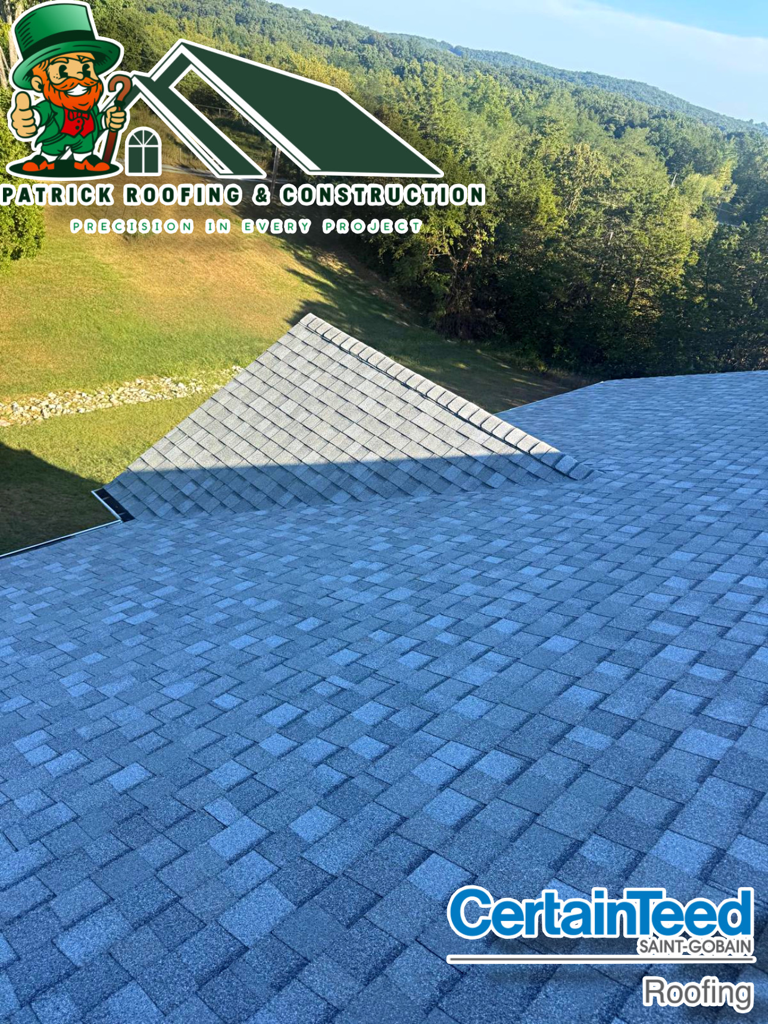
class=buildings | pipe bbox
[0,315,768,1024]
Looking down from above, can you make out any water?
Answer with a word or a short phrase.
No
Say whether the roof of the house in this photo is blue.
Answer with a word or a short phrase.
Yes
